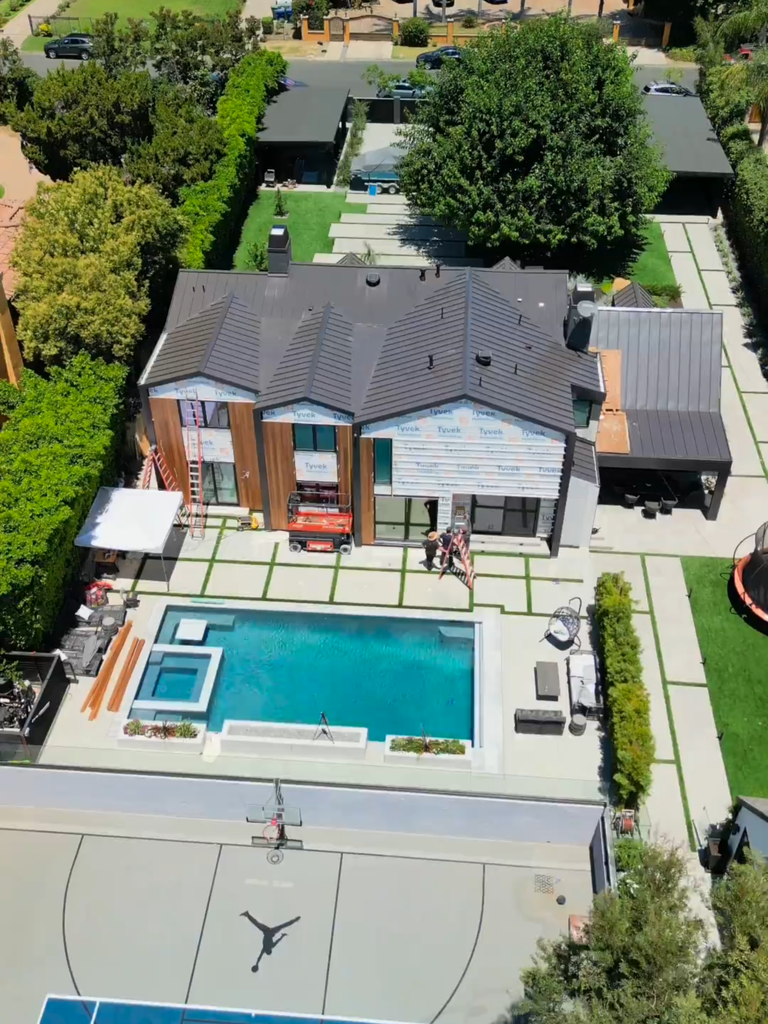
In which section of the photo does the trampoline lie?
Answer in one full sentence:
The trampoline appears toward the right of the photo.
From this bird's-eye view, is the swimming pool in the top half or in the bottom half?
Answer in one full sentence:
The swimming pool is in the bottom half of the image.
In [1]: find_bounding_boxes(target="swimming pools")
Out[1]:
[96,597,507,765]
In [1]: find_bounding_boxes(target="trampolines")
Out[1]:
[728,518,768,609]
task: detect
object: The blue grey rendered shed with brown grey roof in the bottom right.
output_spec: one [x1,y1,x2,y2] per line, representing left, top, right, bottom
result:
[727,798,768,882]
